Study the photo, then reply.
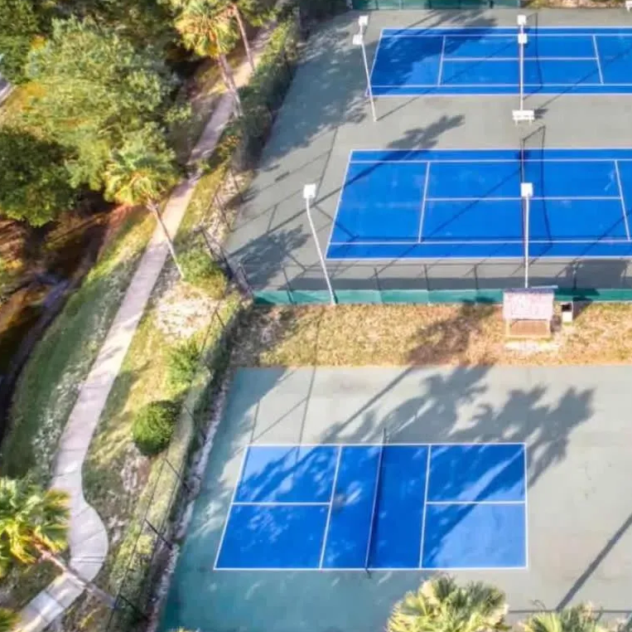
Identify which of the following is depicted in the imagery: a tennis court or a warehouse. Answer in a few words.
tennis court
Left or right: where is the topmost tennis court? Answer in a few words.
right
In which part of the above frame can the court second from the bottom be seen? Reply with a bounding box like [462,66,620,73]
[325,128,632,259]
